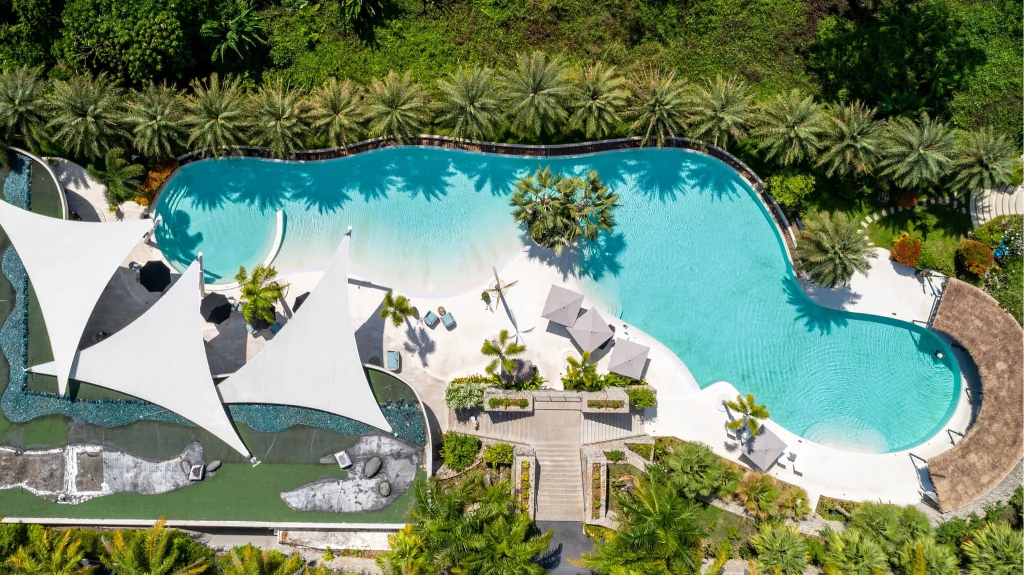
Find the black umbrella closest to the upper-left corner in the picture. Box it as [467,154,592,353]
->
[140,261,174,291]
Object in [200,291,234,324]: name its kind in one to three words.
umbrella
